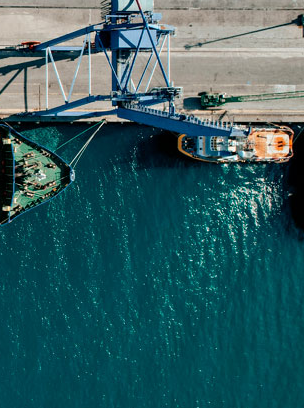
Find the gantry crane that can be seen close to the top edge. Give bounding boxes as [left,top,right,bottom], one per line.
[16,0,248,136]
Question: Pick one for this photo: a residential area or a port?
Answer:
port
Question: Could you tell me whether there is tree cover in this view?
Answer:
No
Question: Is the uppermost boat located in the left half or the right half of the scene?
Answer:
right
